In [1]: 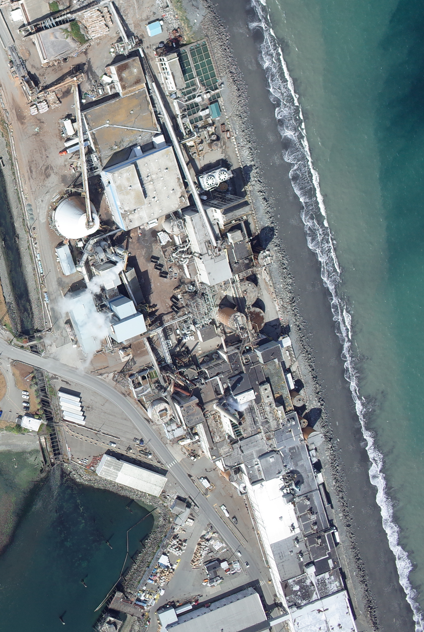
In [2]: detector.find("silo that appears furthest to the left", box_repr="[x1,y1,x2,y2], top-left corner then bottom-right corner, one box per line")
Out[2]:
[53,194,100,241]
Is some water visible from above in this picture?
Yes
